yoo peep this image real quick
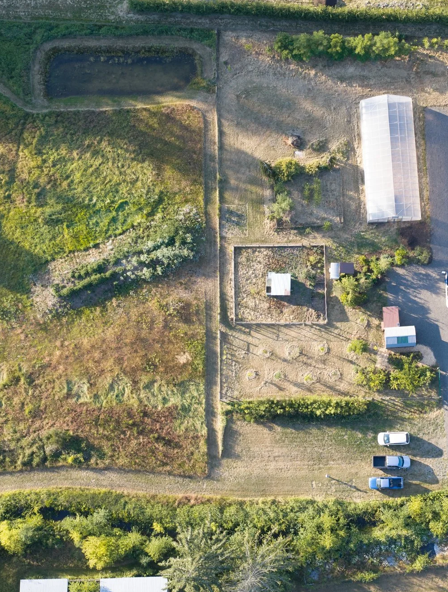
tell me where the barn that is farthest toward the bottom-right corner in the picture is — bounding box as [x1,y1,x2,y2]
[383,325,416,348]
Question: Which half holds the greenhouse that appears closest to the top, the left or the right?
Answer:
right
